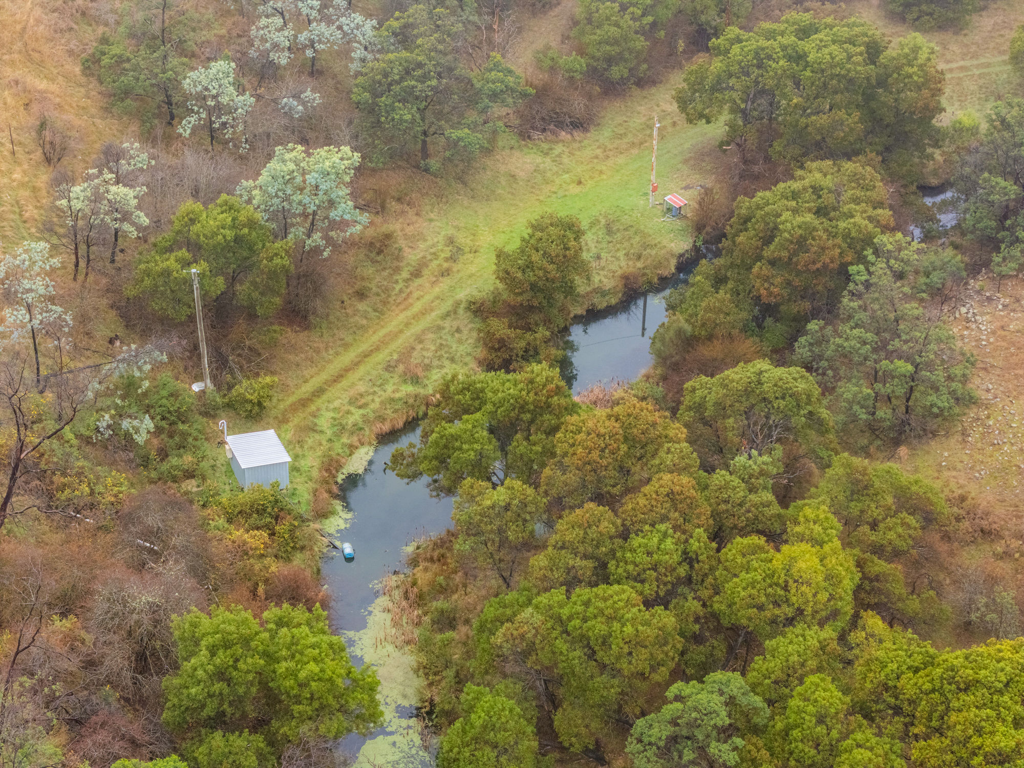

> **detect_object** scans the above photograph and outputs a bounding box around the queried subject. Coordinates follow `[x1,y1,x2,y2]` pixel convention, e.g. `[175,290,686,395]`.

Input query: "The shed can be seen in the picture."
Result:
[220,424,292,488]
